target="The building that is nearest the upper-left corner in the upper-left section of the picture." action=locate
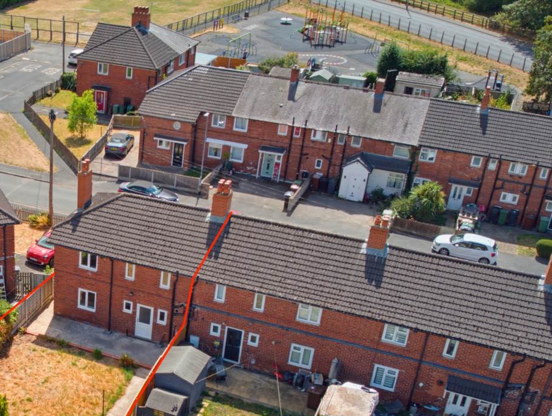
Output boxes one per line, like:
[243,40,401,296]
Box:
[75,0,200,113]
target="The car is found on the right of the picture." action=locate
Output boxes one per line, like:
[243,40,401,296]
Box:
[437,232,497,261]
